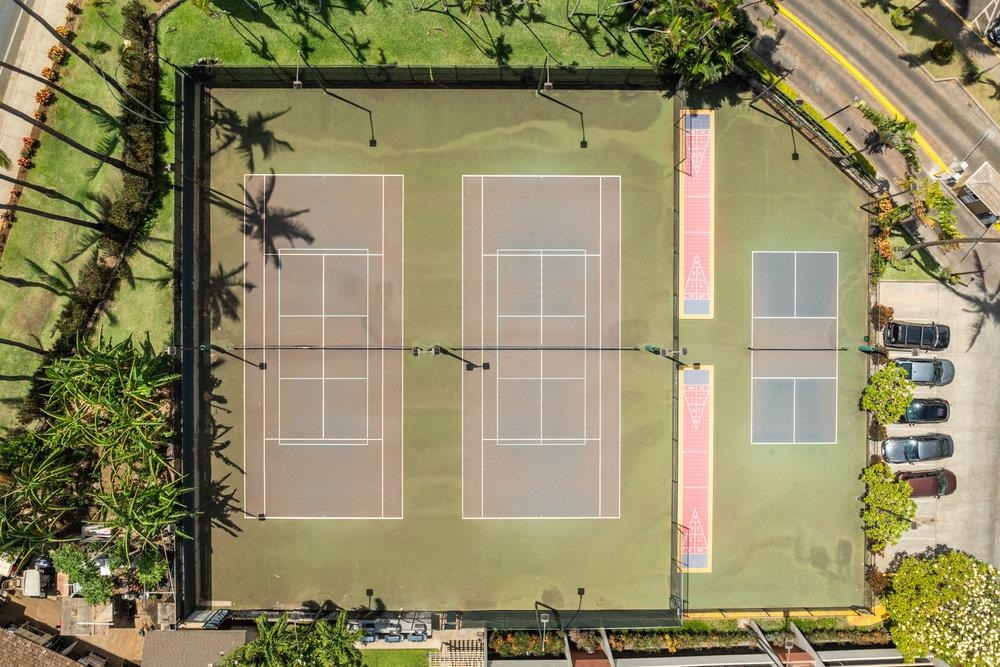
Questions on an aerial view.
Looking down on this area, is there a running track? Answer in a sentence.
No, no running track is visible in the view.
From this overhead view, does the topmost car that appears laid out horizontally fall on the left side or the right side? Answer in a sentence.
The topmost car that appears laid out horizontally sits on the right side.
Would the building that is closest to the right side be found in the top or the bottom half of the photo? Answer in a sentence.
The top half of the photo is where the building that is closest to the right side is.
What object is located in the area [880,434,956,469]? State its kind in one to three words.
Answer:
car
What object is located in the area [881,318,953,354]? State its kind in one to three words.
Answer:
car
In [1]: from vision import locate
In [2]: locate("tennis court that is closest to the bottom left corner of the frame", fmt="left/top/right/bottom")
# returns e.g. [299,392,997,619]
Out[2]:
[243,175,403,520]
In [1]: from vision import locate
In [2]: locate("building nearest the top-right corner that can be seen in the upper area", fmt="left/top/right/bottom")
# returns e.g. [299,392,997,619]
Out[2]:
[946,156,1000,234]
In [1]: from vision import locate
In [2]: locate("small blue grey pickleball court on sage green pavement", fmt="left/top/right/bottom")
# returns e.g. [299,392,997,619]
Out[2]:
[752,251,839,445]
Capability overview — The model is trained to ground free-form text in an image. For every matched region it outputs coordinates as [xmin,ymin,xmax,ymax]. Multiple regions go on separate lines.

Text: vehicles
[22,562,59,597]
[891,355,957,389]
[891,468,961,502]
[880,434,956,469]
[892,397,953,429]
[881,318,953,354]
